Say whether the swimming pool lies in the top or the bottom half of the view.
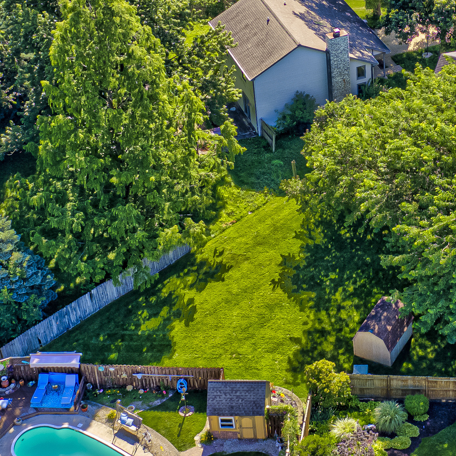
bottom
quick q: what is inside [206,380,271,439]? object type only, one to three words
shed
